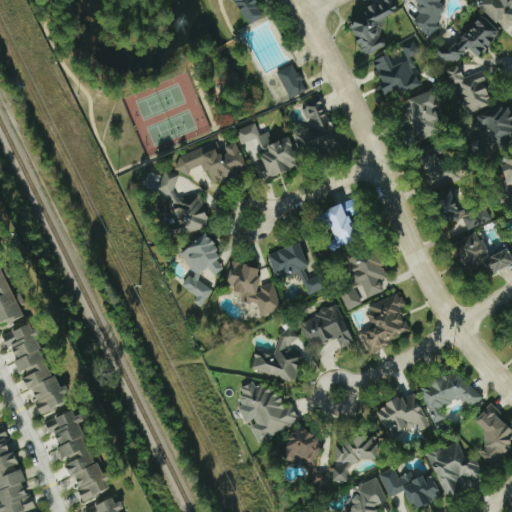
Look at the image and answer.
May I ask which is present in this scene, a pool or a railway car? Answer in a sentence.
This aerial view contains a pool.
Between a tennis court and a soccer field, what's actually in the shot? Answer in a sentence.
This aerial view contains a tennis court.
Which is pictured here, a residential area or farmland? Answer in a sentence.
What you see here is a residential area.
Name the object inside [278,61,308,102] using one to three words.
building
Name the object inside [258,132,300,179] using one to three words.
house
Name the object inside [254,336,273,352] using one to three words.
swimming pool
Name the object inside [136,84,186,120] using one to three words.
tennis court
